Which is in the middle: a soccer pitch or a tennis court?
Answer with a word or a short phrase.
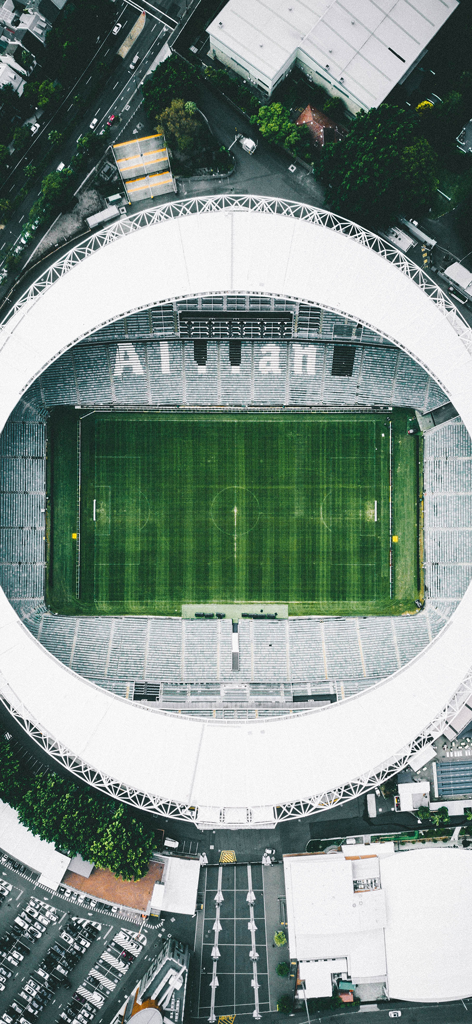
soccer pitch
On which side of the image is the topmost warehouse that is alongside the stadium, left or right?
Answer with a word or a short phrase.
right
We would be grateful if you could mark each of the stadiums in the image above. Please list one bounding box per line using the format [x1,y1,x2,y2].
[0,195,472,831]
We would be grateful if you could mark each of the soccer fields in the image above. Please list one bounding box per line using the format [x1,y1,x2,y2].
[44,406,426,623]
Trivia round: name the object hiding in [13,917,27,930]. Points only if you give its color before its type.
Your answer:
white vehicle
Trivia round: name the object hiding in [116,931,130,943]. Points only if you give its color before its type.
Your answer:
white vehicle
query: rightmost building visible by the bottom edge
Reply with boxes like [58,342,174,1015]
[379,844,472,1006]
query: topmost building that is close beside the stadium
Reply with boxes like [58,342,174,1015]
[206,0,466,119]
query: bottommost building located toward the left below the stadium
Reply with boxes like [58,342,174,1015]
[107,940,190,1024]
